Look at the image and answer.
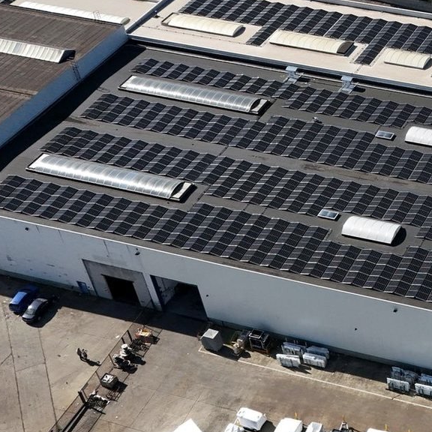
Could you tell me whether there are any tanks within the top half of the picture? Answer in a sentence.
No, no tank can be made out within the top half of the picture.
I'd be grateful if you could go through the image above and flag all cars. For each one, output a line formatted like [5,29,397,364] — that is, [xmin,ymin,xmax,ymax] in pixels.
[15,293,55,327]
[1,282,41,315]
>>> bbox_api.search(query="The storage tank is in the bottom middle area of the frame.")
[199,328,227,357]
